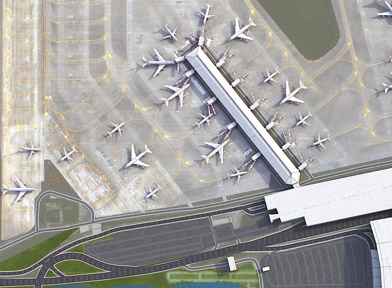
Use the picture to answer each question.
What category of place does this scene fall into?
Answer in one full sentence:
What you see here is an airport.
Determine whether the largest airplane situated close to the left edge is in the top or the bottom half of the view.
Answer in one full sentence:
The largest airplane situated close to the left edge sits in the bottom half of the picture.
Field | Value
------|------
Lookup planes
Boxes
[227,166,247,184]
[296,111,314,126]
[264,68,280,83]
[105,121,125,137]
[313,133,333,149]
[194,113,213,127]
[377,0,392,17]
[163,23,178,42]
[141,48,175,76]
[197,2,215,24]
[4,175,36,203]
[162,83,190,107]
[383,82,392,93]
[62,147,79,162]
[279,79,307,104]
[228,17,255,42]
[125,144,152,168]
[201,140,229,163]
[20,140,41,157]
